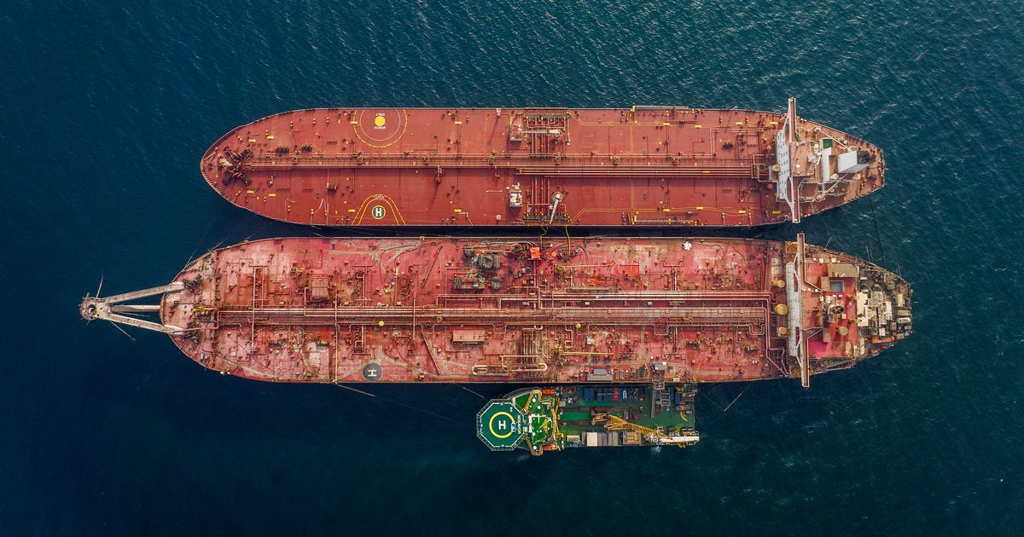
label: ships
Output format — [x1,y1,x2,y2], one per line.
[77,231,916,411]
[476,383,699,455]
[198,97,892,229]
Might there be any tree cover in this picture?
No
